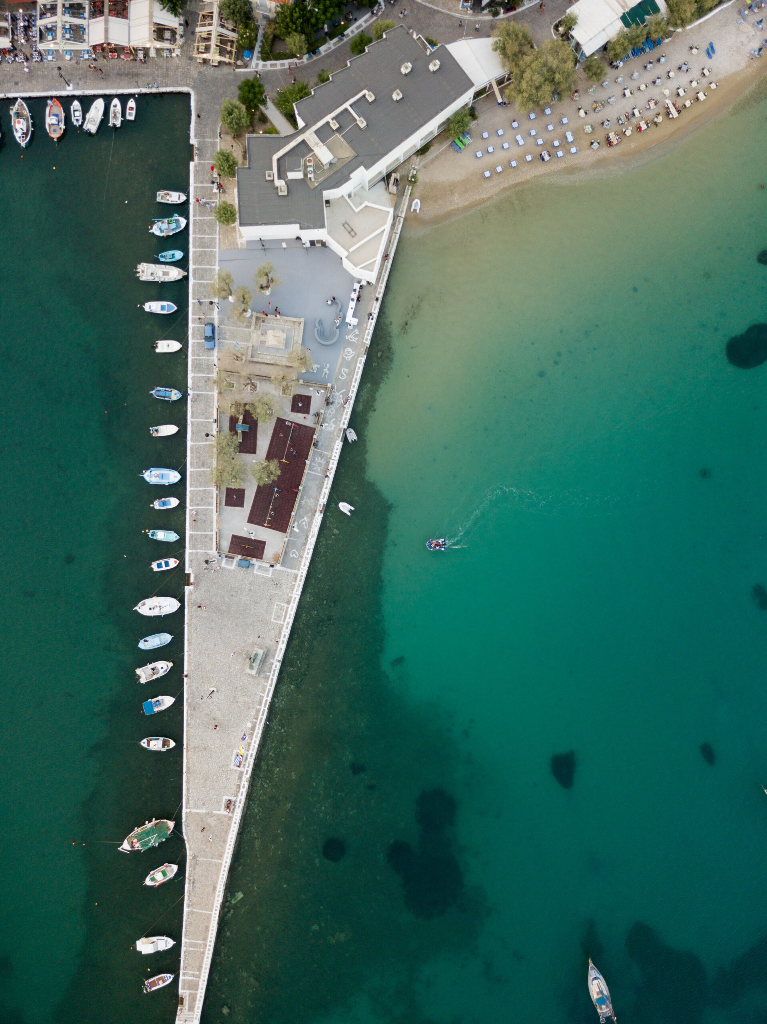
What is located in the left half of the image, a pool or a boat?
boat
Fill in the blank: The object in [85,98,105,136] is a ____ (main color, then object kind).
white boat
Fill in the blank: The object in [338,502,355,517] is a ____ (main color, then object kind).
white boat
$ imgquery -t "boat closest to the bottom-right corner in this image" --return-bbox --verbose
[586,951,615,1023]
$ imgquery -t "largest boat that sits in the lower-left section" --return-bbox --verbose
[120,819,175,852]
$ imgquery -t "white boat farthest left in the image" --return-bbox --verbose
[9,98,33,148]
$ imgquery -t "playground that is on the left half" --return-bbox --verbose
[218,371,327,562]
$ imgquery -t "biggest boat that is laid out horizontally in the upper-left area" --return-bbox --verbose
[138,263,188,282]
